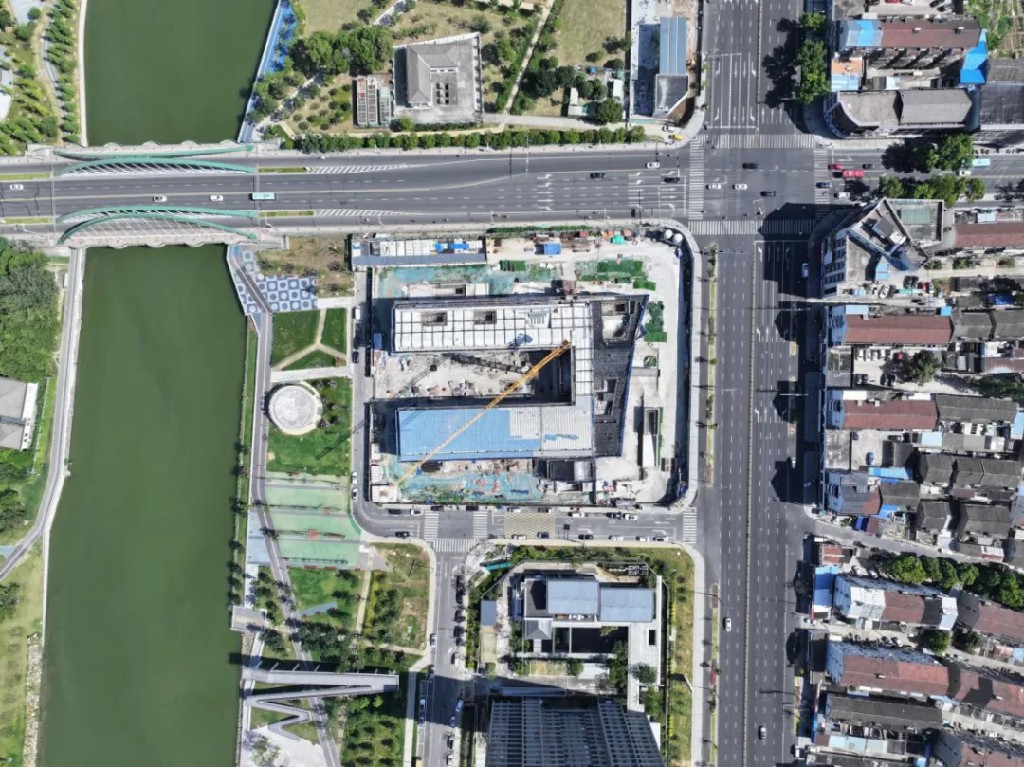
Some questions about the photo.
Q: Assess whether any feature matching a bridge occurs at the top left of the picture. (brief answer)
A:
Yes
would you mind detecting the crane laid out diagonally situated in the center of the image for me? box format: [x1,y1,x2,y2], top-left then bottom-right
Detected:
[394,341,572,486]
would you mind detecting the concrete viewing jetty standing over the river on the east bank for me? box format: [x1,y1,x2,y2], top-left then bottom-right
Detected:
[228,606,267,633]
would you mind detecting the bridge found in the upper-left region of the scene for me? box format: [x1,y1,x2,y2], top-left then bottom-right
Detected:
[50,141,259,253]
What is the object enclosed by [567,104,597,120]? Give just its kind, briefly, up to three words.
shed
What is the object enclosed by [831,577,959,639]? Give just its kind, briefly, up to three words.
house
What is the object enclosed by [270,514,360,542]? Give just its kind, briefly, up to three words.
sports court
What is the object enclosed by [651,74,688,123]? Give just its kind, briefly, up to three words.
building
